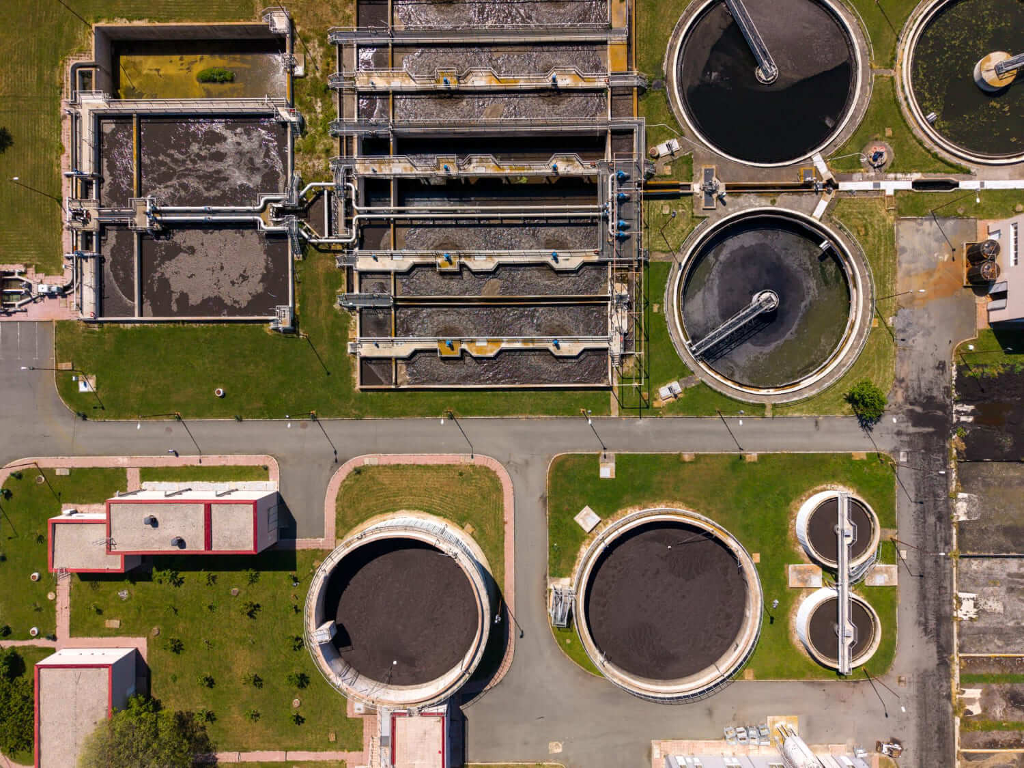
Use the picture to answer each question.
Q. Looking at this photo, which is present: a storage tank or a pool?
storage tank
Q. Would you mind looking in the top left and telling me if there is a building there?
No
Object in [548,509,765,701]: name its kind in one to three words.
storage tank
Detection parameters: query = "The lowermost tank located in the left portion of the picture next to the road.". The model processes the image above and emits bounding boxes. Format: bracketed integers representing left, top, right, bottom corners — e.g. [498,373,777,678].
[302,512,490,714]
